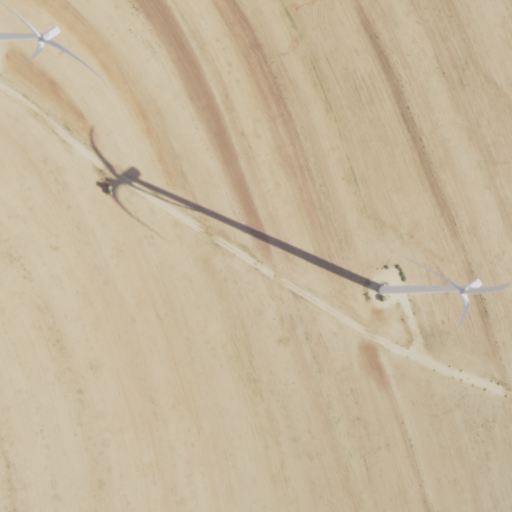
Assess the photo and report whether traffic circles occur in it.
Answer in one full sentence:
No, there isn't any traffic circle down there.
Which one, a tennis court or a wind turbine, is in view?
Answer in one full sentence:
The image shows a wind turbine.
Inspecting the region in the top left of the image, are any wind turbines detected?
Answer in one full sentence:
Yes, you'll find a wind turbine in the top left of the image.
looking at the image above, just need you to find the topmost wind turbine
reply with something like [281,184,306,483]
[0,0,106,80]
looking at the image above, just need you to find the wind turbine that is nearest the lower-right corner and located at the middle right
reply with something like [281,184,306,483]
[377,254,510,330]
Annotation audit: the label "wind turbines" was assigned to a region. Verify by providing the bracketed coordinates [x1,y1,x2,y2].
[377,254,510,330]
[0,0,106,80]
